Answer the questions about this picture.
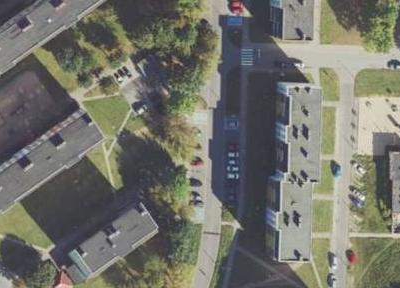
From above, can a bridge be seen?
No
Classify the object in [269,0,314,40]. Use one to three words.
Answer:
building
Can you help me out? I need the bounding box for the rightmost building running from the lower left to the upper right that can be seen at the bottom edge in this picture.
[63,199,158,283]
